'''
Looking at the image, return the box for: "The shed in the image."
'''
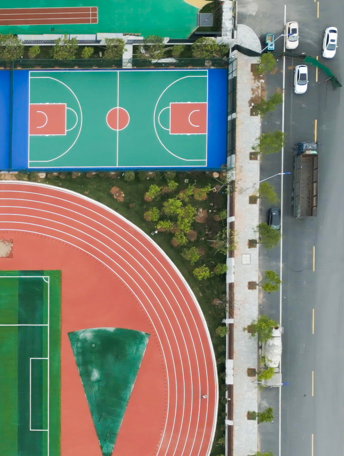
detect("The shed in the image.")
[193,13,213,32]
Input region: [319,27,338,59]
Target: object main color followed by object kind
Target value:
white car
